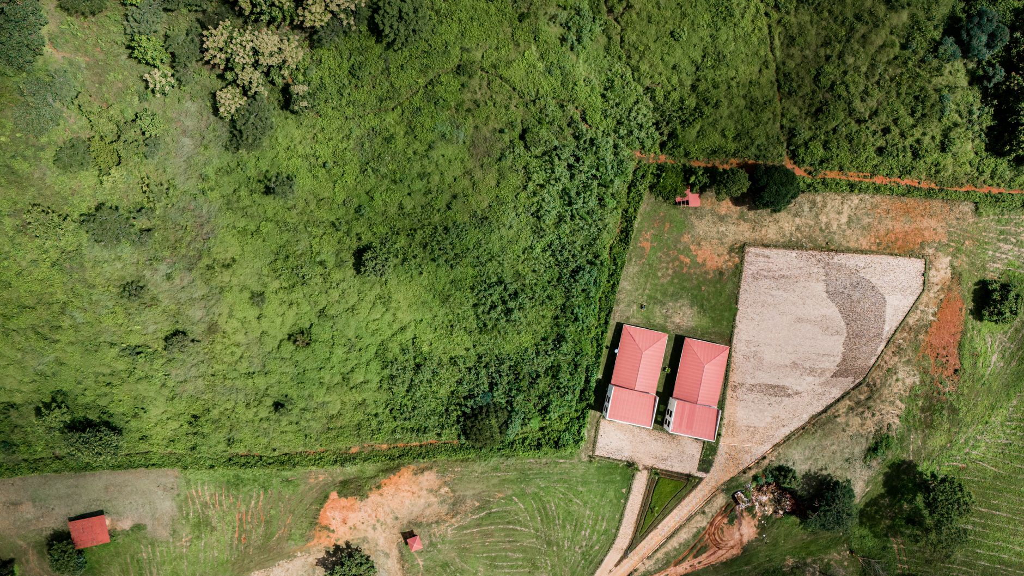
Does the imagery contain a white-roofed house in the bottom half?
No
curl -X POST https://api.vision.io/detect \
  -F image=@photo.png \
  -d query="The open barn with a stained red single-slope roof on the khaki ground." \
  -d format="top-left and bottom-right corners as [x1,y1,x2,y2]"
[68,512,115,548]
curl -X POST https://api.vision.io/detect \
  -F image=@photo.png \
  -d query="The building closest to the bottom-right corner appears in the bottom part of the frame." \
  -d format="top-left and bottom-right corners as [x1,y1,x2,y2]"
[663,337,730,444]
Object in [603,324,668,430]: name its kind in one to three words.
house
